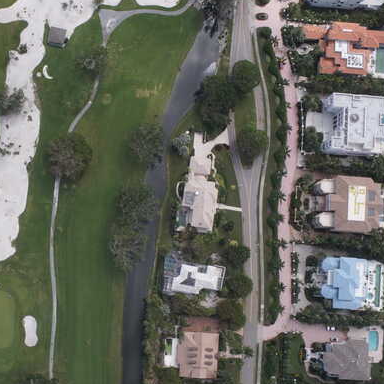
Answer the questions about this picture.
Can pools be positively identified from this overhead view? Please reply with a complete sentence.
Yes, this view includes a pool.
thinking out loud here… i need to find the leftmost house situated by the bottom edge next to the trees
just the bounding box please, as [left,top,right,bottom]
[178,332,218,379]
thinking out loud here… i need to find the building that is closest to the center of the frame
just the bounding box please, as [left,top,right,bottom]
[182,156,218,231]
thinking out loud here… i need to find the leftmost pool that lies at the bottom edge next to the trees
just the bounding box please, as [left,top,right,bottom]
[164,338,178,366]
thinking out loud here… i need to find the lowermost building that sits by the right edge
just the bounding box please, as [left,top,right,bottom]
[321,340,371,380]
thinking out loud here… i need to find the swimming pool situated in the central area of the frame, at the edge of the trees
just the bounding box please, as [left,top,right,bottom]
[177,208,192,230]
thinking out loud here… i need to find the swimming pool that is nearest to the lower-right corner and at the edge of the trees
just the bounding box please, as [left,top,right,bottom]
[348,326,384,363]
